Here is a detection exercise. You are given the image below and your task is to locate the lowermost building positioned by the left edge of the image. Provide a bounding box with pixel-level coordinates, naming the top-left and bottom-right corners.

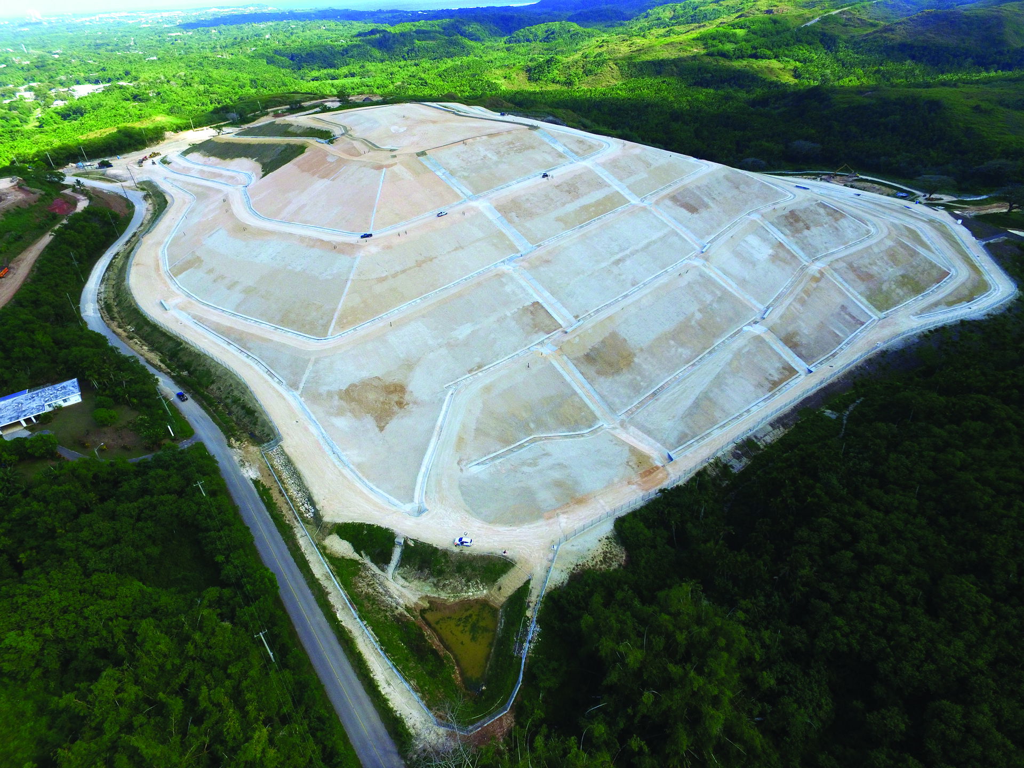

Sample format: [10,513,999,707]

[0,377,82,433]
